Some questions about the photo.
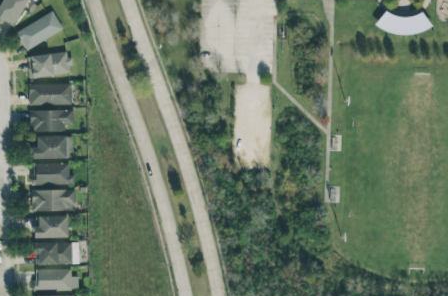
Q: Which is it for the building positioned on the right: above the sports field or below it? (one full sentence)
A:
It's above the sports field that the building positioned on the right shows up.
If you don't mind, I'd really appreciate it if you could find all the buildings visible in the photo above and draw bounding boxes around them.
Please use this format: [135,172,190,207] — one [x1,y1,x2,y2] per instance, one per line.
[30,110,74,132]
[376,10,435,34]
[37,242,80,265]
[32,163,74,186]
[34,136,73,158]
[30,83,72,105]
[18,10,63,52]
[34,270,79,291]
[32,190,76,212]
[0,0,28,27]
[34,216,68,239]
[30,52,72,78]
